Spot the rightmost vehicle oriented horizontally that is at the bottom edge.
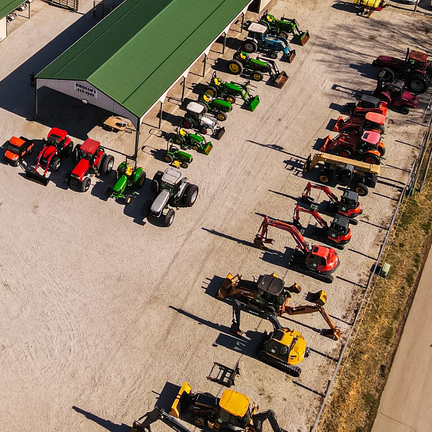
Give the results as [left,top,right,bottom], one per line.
[167,384,286,432]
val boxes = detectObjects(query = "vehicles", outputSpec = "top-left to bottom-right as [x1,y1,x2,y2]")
[261,14,301,41]
[379,72,420,114]
[29,125,74,182]
[254,214,344,285]
[215,270,344,334]
[198,94,235,120]
[173,127,214,155]
[107,160,145,204]
[242,25,298,64]
[61,137,112,192]
[228,52,280,87]
[164,144,195,170]
[167,384,286,432]
[201,75,254,111]
[291,177,366,222]
[126,400,201,432]
[230,295,318,372]
[333,85,391,120]
[4,138,34,166]
[140,167,197,228]
[287,148,384,200]
[326,132,393,168]
[187,107,224,139]
[292,205,351,247]
[370,49,432,100]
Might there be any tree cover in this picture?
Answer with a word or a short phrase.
No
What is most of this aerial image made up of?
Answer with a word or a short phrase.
paved ground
